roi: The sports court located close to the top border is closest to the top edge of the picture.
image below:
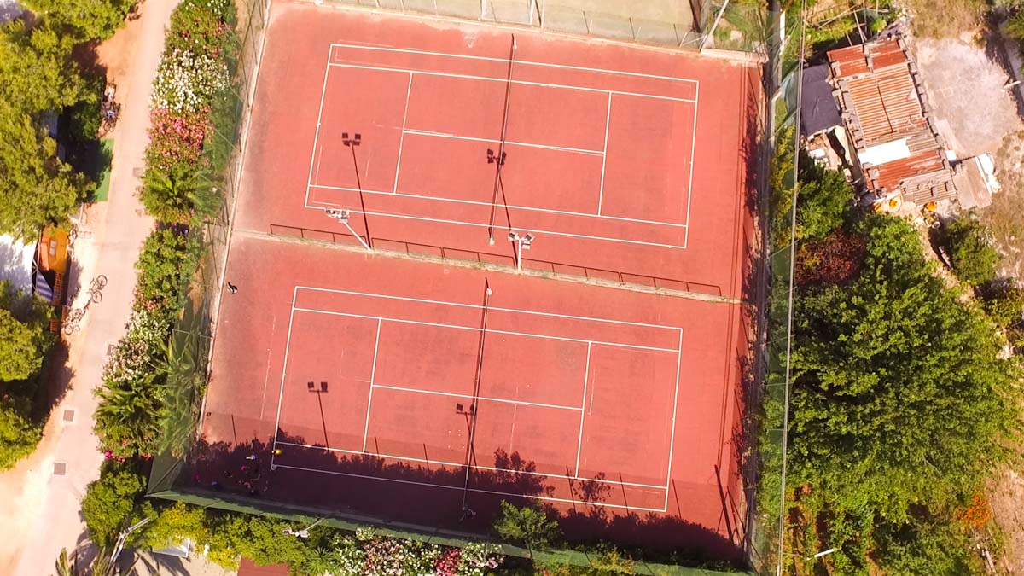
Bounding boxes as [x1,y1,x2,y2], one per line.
[336,0,693,46]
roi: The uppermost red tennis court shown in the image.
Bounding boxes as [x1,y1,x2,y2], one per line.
[231,0,764,295]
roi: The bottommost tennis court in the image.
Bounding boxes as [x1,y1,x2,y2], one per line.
[174,238,751,566]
